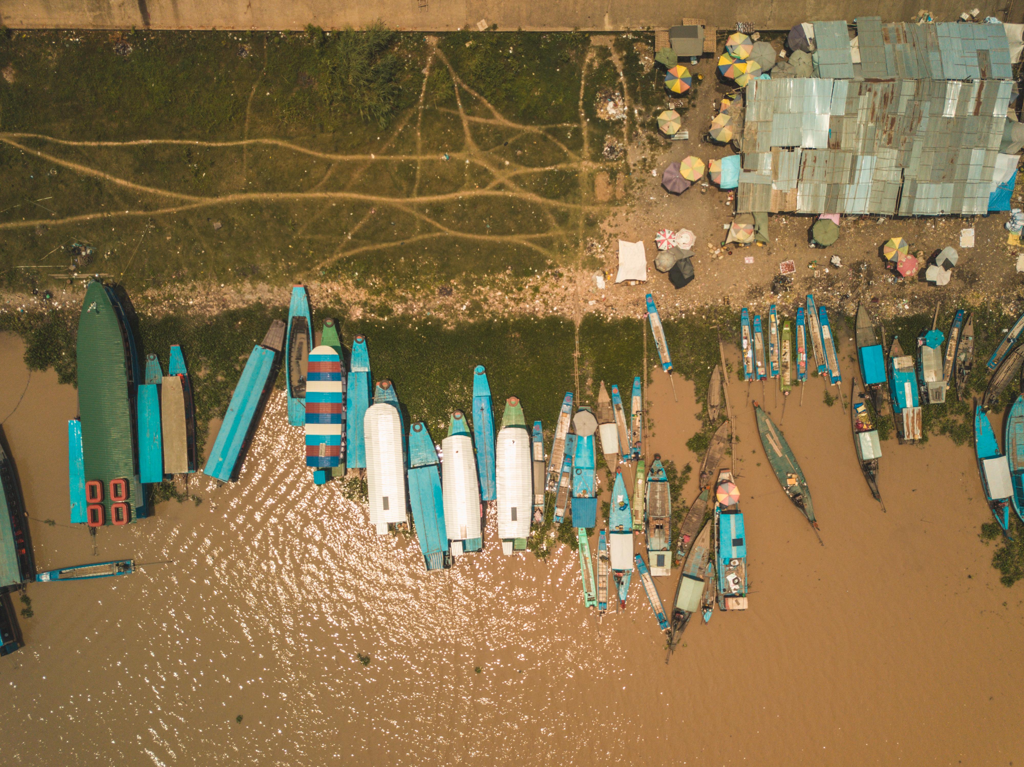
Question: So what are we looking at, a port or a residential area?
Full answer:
It's a port.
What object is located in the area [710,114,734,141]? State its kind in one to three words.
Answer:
umbrella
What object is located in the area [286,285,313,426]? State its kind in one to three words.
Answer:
ship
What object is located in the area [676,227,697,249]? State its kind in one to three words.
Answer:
umbrella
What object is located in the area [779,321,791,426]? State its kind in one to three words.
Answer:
boat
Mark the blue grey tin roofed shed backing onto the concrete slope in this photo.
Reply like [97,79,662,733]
[811,16,1012,86]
